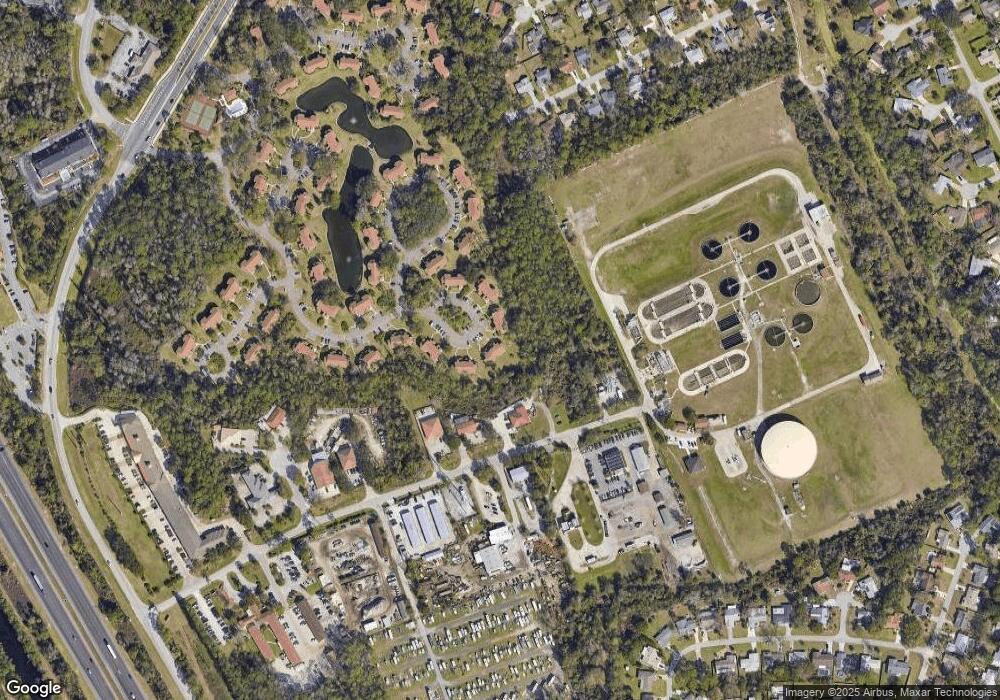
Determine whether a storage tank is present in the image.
Yes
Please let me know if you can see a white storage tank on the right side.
Yes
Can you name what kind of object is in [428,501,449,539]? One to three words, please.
shed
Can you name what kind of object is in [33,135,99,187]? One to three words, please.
building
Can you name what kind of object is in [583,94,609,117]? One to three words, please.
house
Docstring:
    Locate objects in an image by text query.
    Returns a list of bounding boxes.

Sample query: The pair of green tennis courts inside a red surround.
[181,94,219,139]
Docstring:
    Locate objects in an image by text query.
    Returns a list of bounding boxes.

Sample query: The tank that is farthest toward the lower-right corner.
[761,421,818,478]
